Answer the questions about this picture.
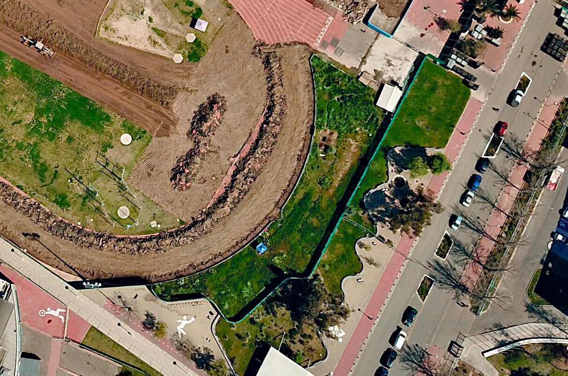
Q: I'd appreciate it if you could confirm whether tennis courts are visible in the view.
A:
No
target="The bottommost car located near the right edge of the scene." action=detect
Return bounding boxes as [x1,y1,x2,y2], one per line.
[552,232,568,247]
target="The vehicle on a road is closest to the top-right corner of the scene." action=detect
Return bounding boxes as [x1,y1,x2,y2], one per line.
[511,89,526,108]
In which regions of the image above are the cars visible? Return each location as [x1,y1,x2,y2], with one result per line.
[450,215,463,231]
[511,89,526,108]
[498,121,507,137]
[394,329,407,351]
[477,156,490,174]
[468,174,481,190]
[382,349,397,368]
[402,307,417,326]
[462,190,474,208]
[563,210,568,219]
[552,232,568,247]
